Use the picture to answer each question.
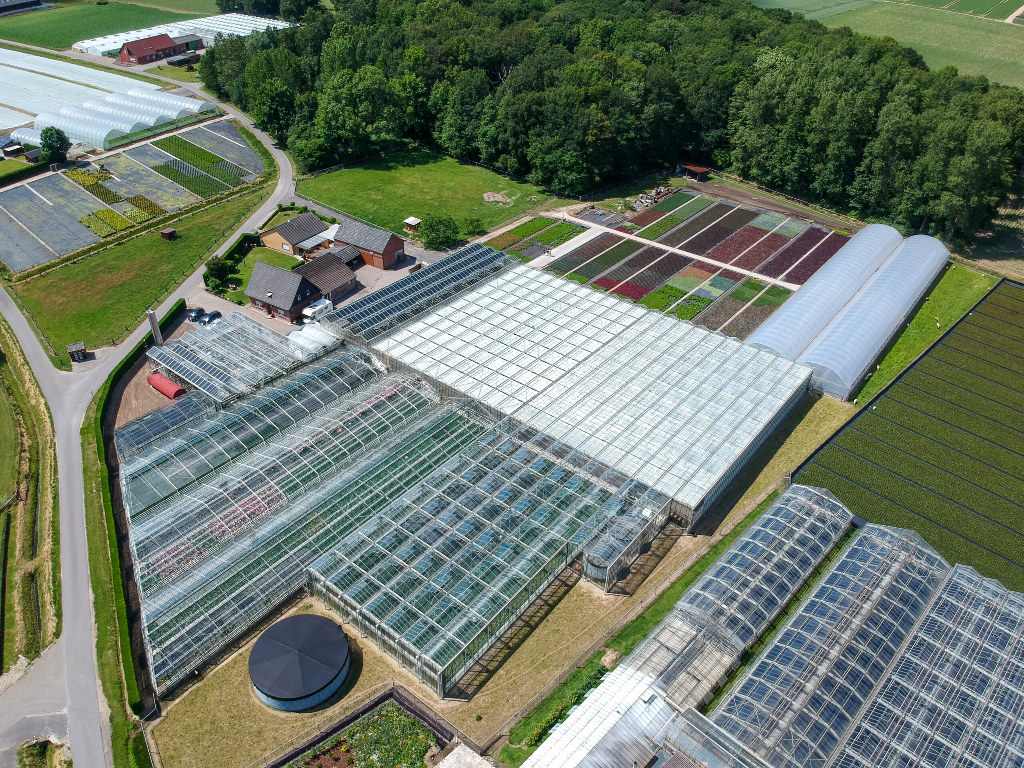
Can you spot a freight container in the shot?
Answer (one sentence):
No, the scene contains no freight container.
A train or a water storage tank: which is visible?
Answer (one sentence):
It is a water storage tank that can be seen here.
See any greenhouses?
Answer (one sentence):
Yes, this view includes a greenhouse.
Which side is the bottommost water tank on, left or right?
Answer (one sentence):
You can find the bottommost water tank on the left side of the picture.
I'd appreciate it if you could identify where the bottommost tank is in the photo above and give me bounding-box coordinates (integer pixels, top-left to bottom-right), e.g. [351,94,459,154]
[248,614,356,712]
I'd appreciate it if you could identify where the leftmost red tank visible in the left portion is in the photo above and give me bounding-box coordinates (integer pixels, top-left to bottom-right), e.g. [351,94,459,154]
[141,359,182,396]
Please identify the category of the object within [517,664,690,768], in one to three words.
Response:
greenhouse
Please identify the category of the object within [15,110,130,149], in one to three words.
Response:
greenhouse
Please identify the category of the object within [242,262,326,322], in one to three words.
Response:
house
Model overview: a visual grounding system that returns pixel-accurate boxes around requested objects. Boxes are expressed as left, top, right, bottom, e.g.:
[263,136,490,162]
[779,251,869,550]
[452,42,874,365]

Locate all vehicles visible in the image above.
[200,310,219,323]
[305,295,335,320]
[187,307,206,321]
